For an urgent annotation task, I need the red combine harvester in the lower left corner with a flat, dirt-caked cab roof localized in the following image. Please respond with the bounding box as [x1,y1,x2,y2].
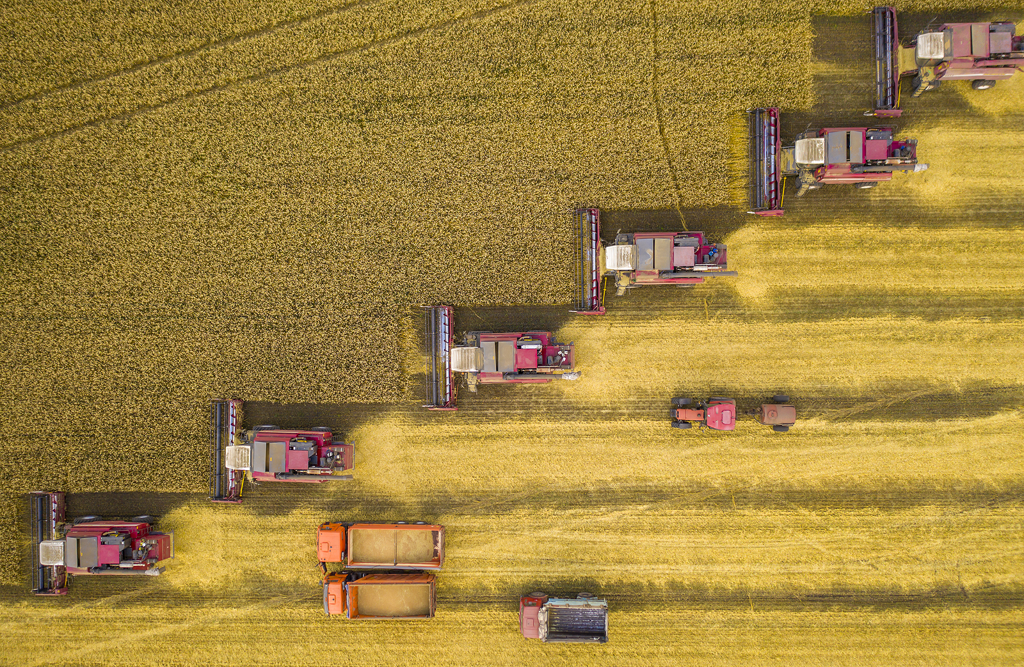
[34,490,172,595]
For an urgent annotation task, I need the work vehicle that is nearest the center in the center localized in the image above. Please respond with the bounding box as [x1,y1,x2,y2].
[422,303,577,410]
